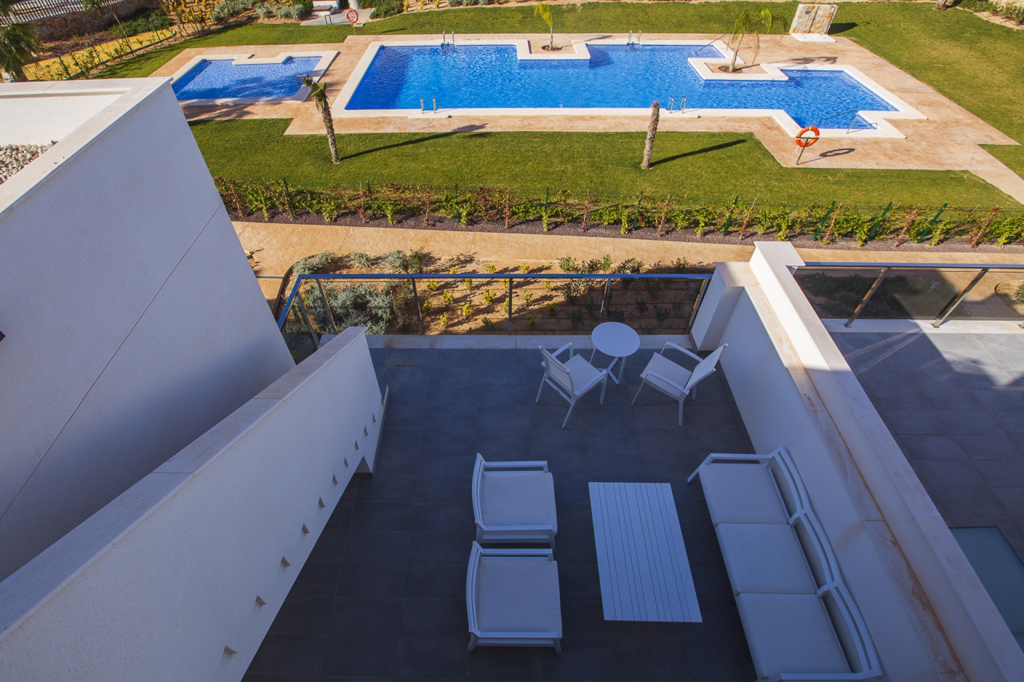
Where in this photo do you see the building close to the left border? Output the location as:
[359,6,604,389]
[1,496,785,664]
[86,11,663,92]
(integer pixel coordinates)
[0,77,295,598]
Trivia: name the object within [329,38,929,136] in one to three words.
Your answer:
swimming pool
